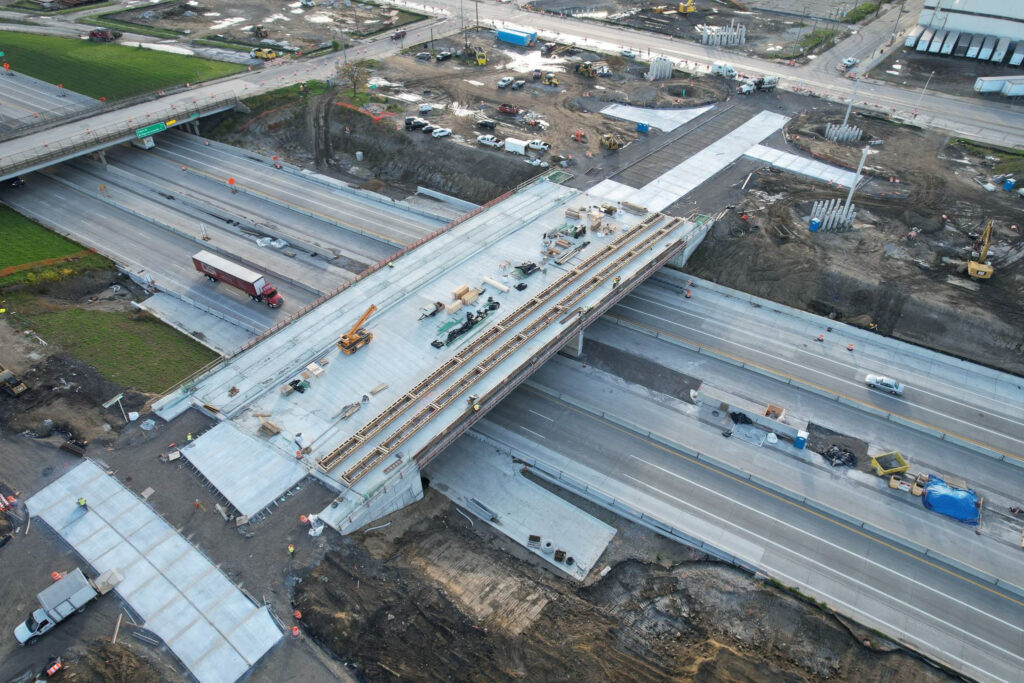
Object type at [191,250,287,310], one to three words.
truck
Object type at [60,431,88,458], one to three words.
work vehicle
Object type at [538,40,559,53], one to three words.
vehicle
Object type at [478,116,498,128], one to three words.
vehicle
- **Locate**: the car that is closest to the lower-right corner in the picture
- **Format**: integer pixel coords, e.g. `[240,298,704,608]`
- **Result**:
[868,375,905,394]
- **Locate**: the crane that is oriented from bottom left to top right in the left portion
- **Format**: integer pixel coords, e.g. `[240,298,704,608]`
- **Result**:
[333,301,376,356]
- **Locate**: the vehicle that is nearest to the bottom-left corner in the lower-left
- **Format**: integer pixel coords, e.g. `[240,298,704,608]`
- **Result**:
[4,553,121,640]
